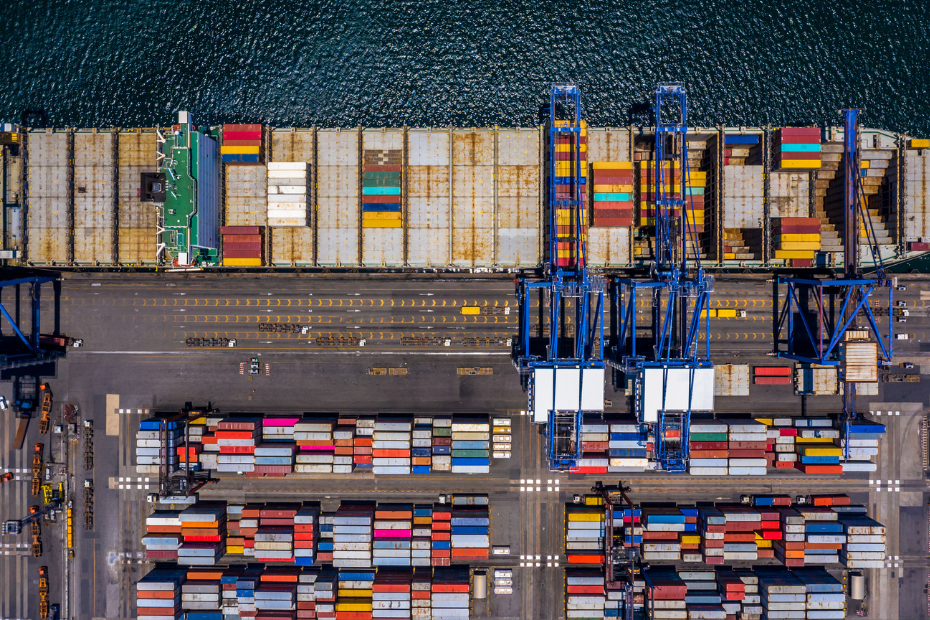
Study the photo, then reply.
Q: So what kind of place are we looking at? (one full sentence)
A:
This image shows a port.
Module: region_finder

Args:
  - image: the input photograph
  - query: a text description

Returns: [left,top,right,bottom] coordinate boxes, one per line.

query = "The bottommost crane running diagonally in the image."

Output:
[3,482,65,535]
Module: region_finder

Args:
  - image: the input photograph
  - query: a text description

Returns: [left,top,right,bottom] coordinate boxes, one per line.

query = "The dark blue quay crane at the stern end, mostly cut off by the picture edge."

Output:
[0,279,66,367]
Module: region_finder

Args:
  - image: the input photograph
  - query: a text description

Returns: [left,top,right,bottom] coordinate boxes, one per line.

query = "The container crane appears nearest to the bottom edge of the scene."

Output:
[619,560,655,620]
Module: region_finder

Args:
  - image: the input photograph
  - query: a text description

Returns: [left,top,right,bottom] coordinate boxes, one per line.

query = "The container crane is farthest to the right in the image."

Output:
[760,103,901,462]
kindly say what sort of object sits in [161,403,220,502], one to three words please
container crane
